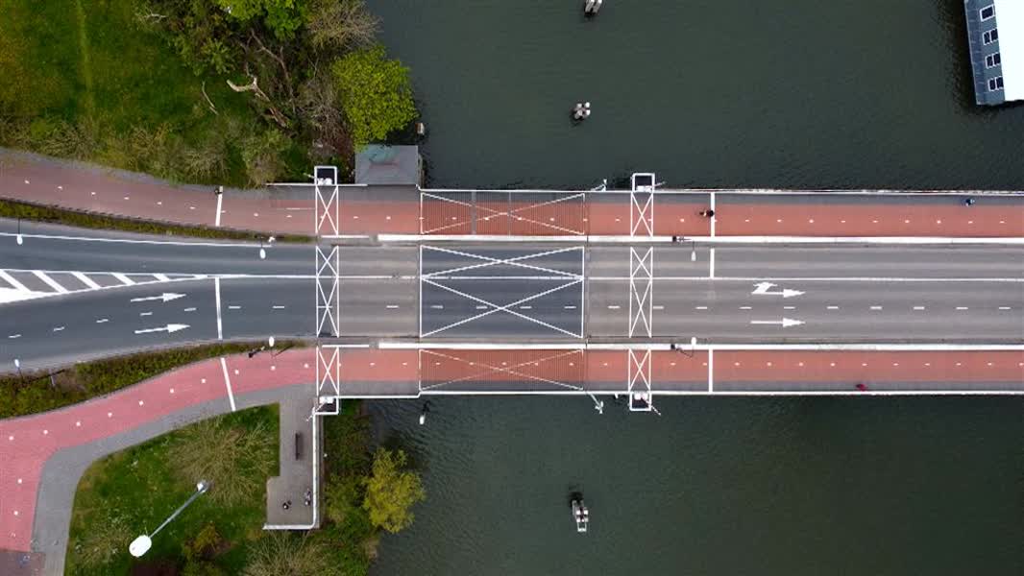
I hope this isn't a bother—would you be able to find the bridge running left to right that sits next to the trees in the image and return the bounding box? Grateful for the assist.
[314,165,1024,414]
